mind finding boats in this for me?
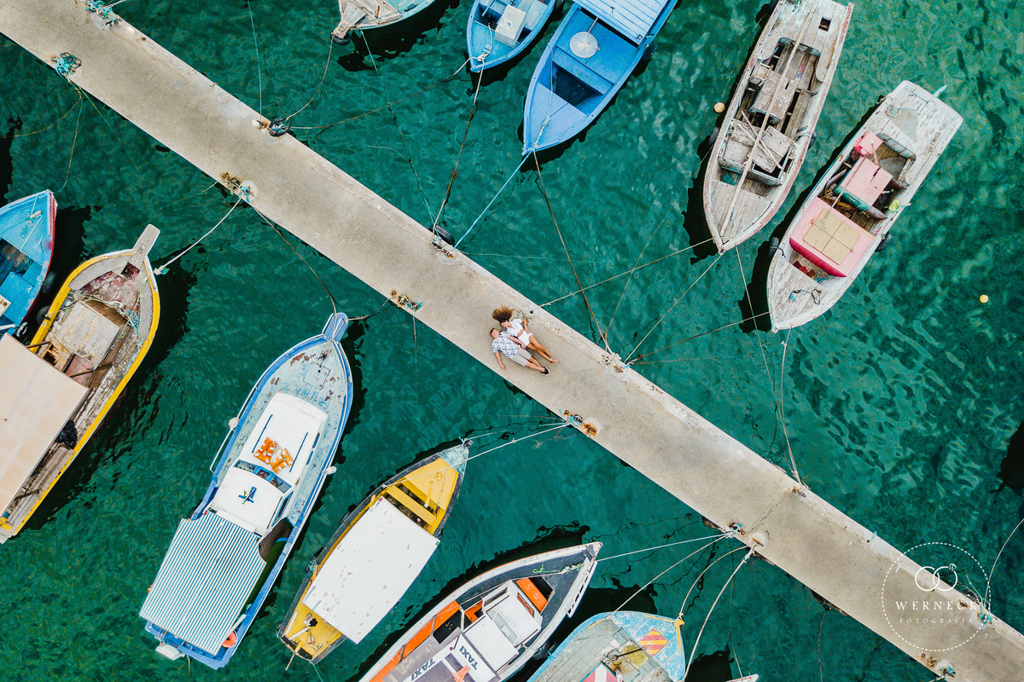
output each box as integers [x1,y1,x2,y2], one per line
[357,537,603,682]
[139,312,354,676]
[332,0,440,42]
[698,662,759,682]
[464,0,557,80]
[522,0,677,157]
[701,0,853,254]
[762,81,961,333]
[526,606,686,682]
[0,224,168,545]
[0,189,75,341]
[277,438,474,671]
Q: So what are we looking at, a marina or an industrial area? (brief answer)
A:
marina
